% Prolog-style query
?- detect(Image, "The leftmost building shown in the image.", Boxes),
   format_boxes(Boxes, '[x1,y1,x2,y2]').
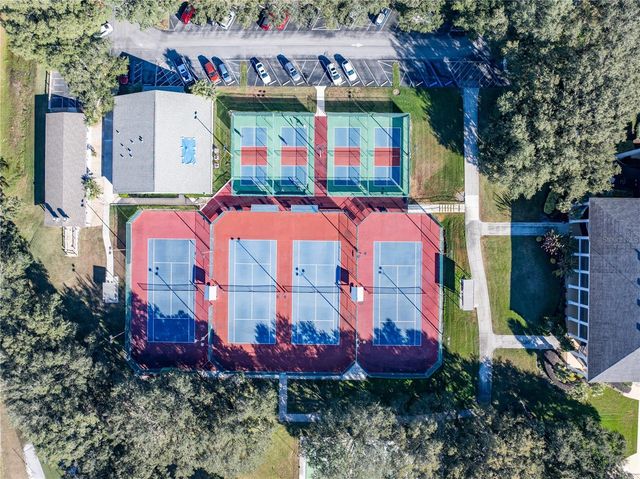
[46,110,94,227]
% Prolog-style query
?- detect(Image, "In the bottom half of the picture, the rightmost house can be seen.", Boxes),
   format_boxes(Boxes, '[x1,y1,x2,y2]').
[561,197,640,383]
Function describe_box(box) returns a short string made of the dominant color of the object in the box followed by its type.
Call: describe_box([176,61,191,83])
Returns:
blue car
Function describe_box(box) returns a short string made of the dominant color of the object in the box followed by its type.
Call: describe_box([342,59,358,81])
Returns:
white car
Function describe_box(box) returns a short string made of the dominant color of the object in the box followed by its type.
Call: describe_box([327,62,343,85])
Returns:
white car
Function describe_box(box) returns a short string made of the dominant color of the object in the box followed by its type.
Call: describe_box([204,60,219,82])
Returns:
red car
